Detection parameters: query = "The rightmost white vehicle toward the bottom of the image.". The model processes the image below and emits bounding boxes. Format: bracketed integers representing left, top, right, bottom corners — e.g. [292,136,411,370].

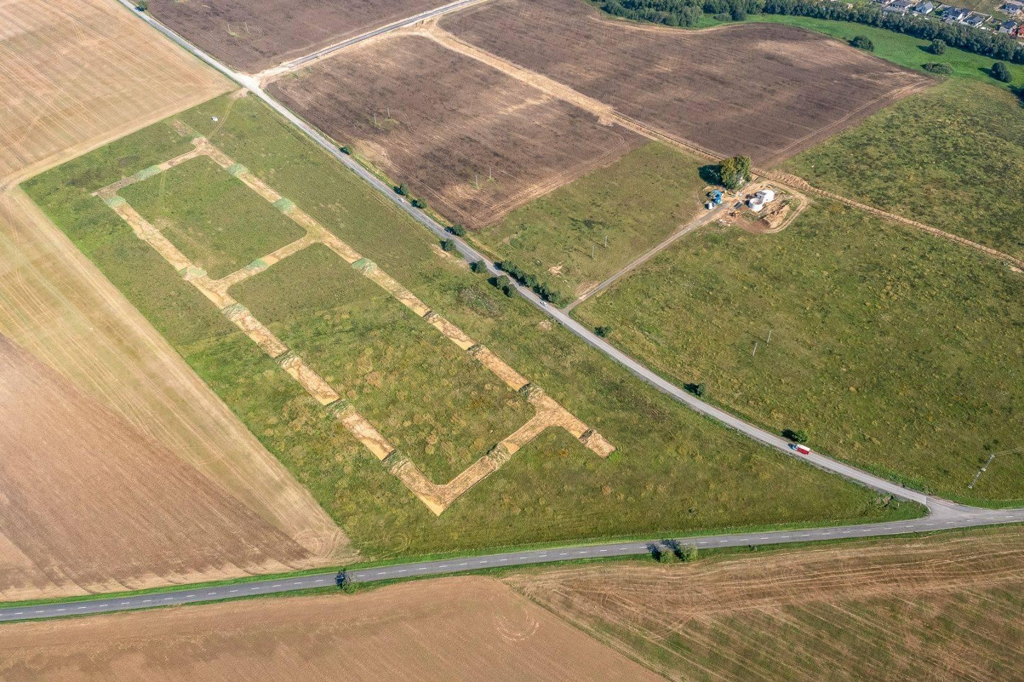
[792,442,810,454]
